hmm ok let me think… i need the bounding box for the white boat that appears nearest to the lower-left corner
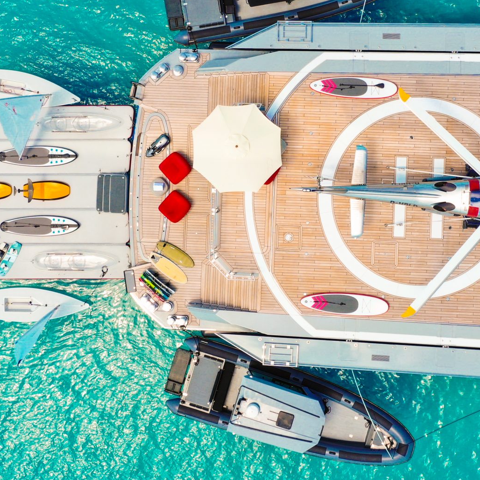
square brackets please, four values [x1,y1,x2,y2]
[0,288,90,368]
